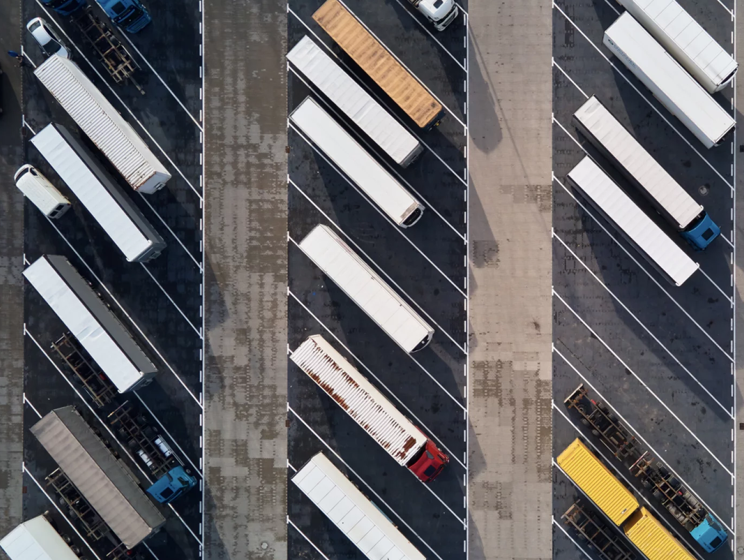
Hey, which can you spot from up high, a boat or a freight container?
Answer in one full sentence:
It is a freight container that can be seen here.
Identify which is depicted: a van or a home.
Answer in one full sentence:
The image shows a van.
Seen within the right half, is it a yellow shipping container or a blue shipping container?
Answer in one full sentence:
You can see a yellow shipping container within the right half.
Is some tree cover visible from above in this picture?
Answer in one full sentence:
No, no tree cover is visible.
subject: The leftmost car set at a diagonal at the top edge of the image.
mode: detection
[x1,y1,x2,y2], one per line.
[27,17,72,61]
